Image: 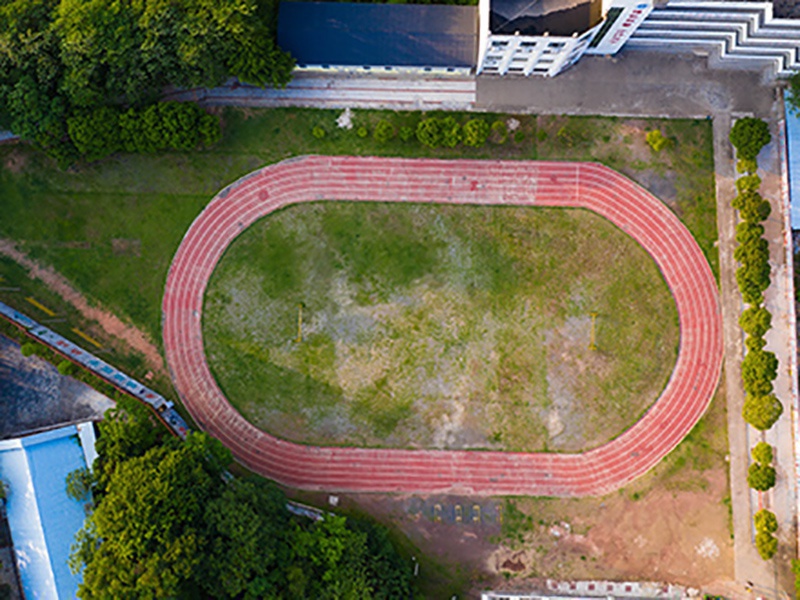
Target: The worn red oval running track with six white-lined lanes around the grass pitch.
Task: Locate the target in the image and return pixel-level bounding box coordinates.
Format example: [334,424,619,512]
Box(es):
[162,155,724,498]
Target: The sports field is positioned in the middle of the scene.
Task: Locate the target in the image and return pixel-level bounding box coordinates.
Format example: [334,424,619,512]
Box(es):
[202,202,680,451]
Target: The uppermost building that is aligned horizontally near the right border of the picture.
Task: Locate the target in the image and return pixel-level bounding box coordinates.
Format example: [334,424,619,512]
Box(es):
[620,0,800,83]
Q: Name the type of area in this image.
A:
sports ground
